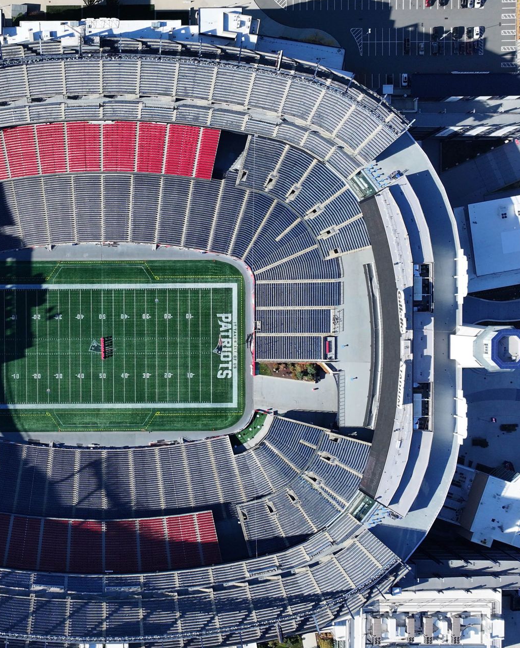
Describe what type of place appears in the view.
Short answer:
sports ground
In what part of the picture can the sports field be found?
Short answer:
left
